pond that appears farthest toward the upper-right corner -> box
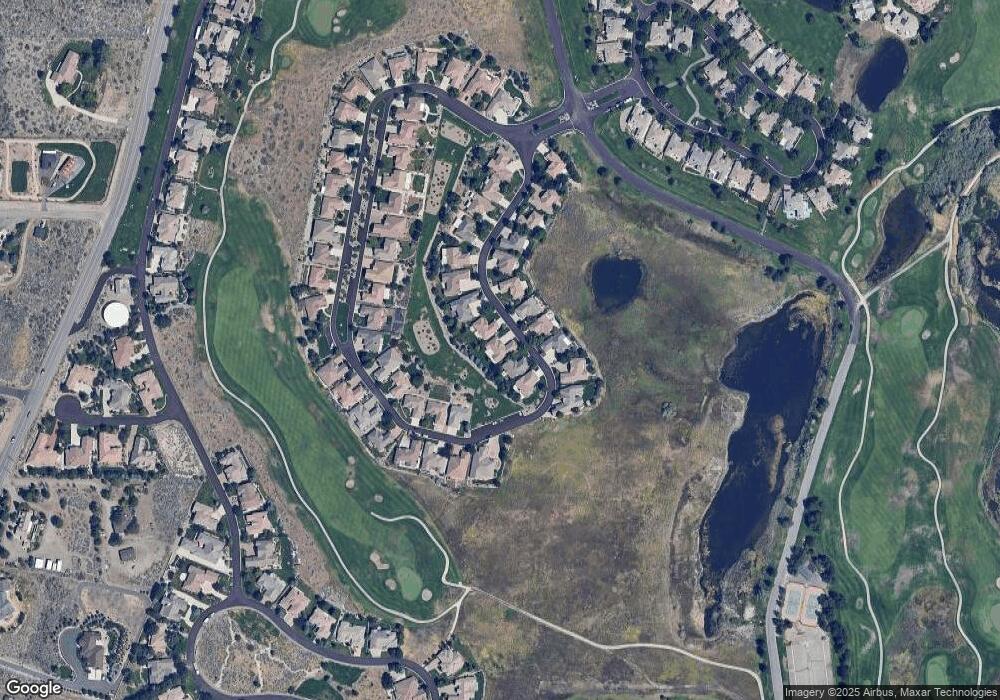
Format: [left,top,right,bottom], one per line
[857,37,910,110]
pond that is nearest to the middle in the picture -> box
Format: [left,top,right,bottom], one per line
[590,254,645,310]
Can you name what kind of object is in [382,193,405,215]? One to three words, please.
house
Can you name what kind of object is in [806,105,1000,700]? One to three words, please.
golf course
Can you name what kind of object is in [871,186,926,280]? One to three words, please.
pond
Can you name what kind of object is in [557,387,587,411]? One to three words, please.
house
